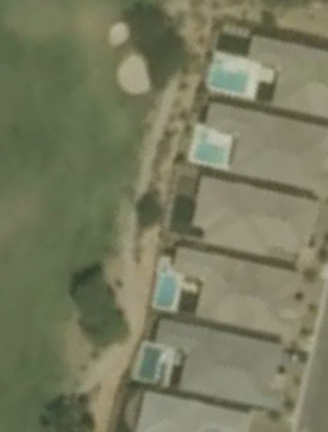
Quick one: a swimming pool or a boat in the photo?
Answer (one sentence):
This aerial view contains a swimming pool.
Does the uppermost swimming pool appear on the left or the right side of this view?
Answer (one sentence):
The uppermost swimming pool appears in the right half of the scene.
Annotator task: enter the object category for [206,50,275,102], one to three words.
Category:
swimming pool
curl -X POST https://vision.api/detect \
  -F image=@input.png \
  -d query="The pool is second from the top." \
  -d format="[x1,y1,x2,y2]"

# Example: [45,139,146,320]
[189,124,232,169]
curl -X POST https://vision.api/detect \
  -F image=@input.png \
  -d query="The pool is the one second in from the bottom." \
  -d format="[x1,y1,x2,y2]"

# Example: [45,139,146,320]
[153,257,198,314]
